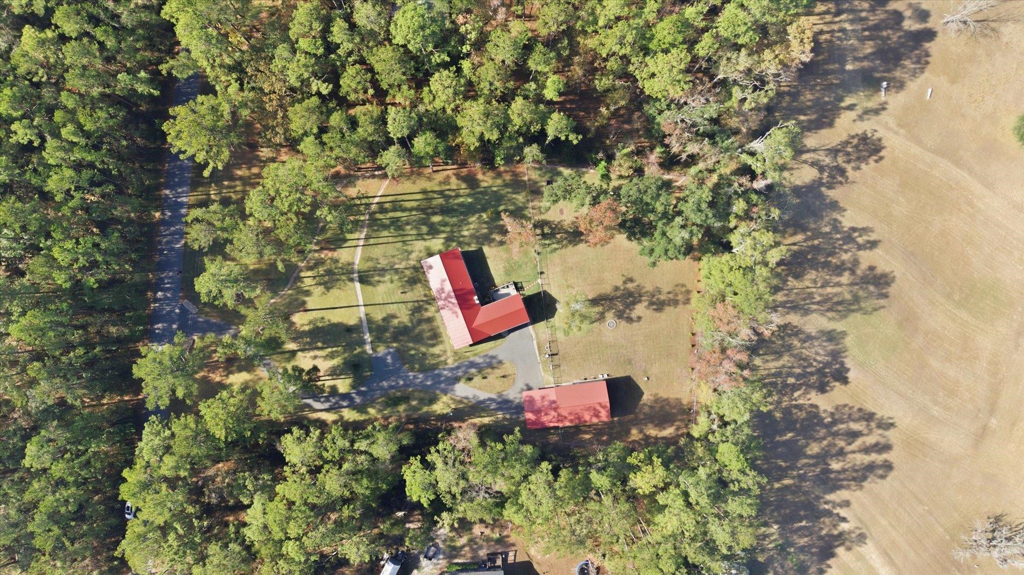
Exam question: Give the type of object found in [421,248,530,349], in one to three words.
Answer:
house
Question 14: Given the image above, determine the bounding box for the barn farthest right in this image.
[522,380,611,430]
